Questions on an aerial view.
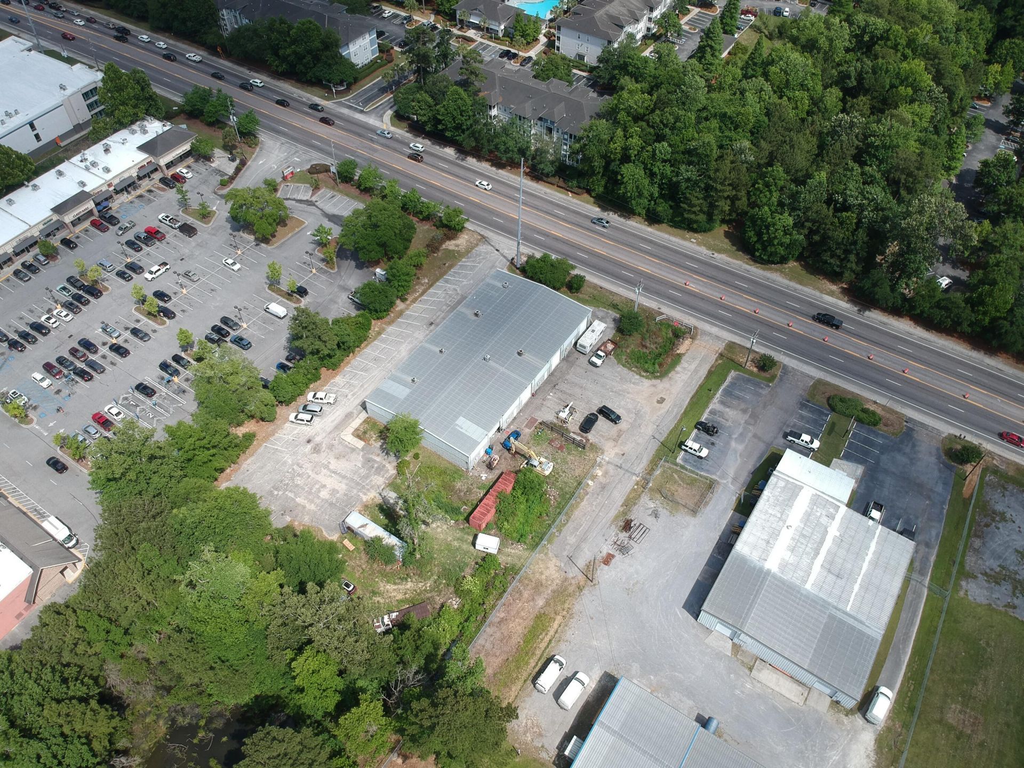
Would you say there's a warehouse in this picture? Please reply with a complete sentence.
Yes, the image includes a warehouse.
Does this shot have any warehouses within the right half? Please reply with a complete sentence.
Yes, a warehouse appears within the right half.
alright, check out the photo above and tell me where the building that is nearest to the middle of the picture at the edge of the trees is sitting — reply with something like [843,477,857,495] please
[365,268,592,469]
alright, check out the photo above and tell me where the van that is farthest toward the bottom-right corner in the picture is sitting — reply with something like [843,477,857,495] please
[864,685,894,727]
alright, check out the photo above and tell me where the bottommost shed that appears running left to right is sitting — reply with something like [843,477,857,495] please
[563,674,768,768]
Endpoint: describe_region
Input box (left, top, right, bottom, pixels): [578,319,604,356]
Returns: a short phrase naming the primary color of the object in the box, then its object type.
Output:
white camper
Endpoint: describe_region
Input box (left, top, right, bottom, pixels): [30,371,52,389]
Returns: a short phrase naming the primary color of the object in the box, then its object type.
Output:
white car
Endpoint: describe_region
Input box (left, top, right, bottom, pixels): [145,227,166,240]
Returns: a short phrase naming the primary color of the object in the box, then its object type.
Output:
red vehicle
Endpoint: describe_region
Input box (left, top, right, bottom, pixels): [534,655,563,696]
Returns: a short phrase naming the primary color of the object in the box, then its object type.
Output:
white van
